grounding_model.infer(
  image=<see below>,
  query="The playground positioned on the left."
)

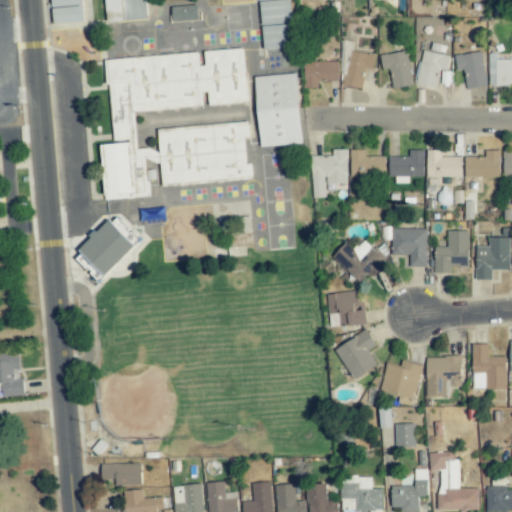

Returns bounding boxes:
[163,204,213,262]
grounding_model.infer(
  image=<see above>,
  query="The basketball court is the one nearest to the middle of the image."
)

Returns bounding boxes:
[268,200,296,250]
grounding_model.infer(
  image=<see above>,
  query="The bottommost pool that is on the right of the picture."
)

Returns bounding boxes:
[332,384,364,404]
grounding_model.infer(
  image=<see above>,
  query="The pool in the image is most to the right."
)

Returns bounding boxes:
[430,221,448,237]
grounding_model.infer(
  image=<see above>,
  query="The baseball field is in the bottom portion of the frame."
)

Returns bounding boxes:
[97,240,332,457]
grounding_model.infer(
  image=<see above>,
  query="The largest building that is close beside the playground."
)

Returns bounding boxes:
[100,48,248,200]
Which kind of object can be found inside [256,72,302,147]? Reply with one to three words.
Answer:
building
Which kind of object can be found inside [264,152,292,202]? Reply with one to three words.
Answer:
basketball court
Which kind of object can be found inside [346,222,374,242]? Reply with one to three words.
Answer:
swimming pool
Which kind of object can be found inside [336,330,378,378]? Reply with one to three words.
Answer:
house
